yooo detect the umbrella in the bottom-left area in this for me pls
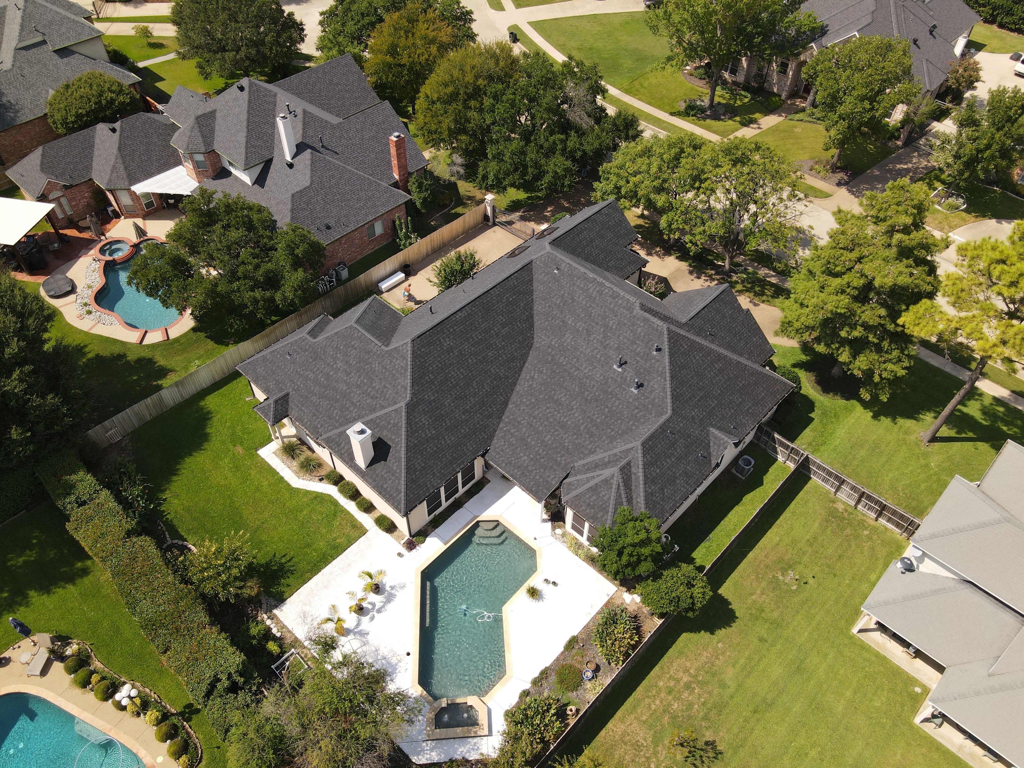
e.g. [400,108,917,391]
[9,621,29,647]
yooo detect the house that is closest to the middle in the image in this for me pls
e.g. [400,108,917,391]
[236,198,795,552]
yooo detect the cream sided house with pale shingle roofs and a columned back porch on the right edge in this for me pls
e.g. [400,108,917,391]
[855,439,1024,768]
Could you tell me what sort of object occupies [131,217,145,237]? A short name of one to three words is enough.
umbrella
